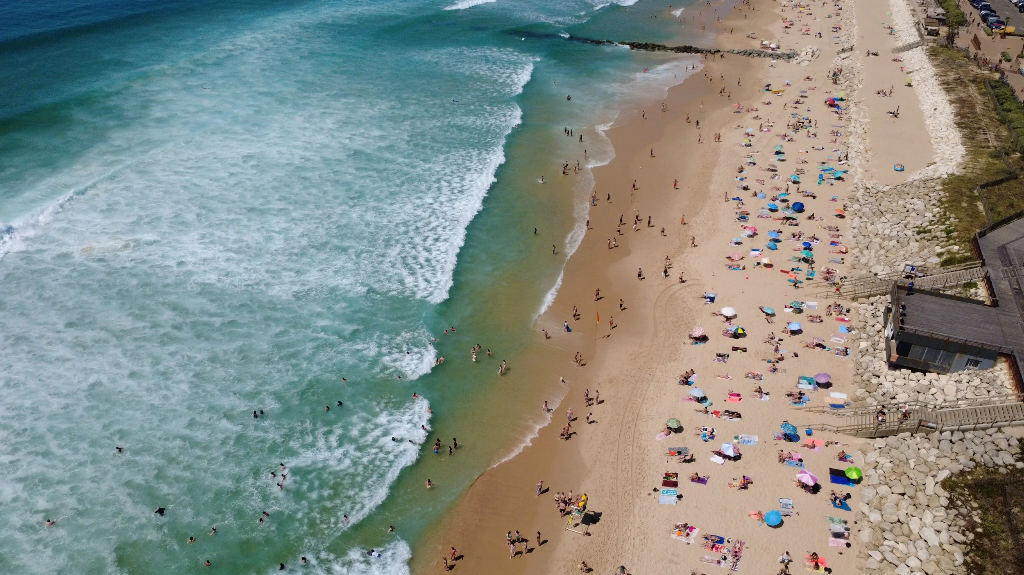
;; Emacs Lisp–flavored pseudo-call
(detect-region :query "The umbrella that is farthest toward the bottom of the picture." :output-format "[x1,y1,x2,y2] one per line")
[763,513,783,533]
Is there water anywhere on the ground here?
Yes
